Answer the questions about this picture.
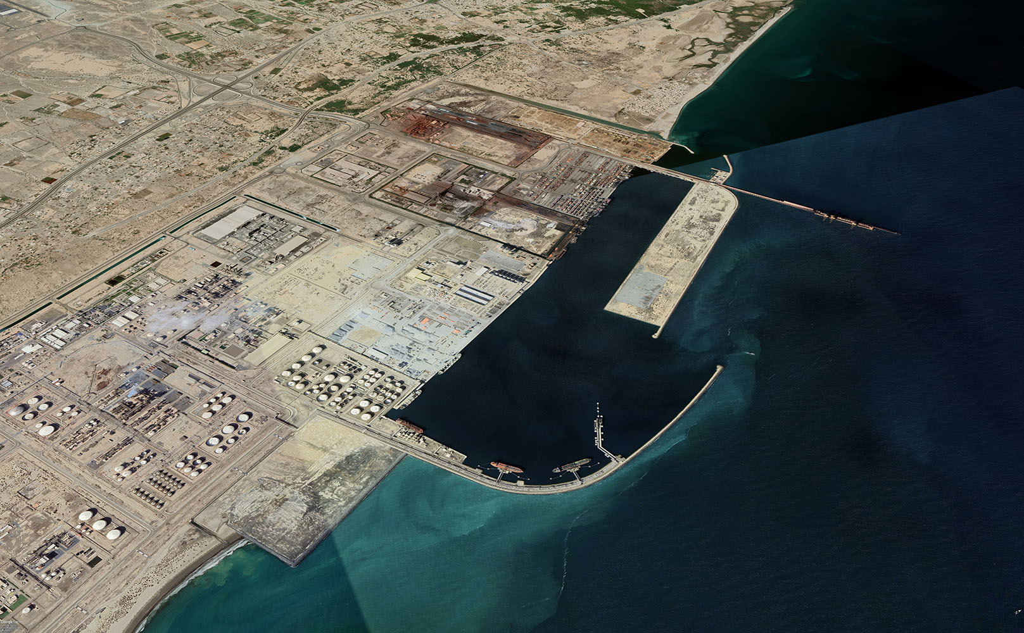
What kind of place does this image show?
port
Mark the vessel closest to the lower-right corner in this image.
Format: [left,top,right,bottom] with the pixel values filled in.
[552,458,592,472]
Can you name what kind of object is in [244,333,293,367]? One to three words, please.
building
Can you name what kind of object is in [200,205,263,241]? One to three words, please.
building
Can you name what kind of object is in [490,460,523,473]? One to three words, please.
ship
